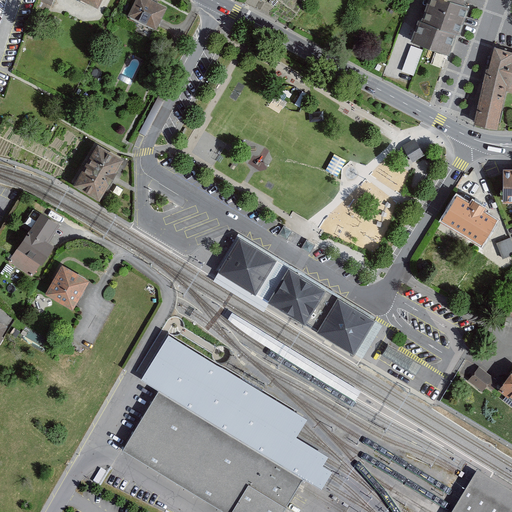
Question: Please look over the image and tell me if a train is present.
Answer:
Yes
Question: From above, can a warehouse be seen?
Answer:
Yes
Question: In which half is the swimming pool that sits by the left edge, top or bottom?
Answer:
bottom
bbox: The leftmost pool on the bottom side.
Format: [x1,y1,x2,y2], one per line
[21,330,45,352]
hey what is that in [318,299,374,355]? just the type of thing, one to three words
building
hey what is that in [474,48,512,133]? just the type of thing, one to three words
building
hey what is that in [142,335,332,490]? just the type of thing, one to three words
warehouse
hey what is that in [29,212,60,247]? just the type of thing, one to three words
house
